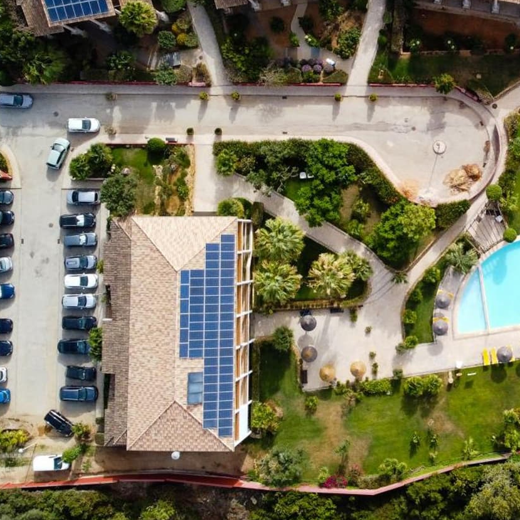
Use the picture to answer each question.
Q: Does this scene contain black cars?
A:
Yes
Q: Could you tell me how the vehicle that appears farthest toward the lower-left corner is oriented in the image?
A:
from left to right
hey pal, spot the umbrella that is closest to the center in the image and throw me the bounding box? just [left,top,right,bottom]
[300,313,318,331]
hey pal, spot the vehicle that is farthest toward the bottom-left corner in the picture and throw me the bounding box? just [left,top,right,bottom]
[27,453,71,474]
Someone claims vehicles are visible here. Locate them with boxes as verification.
[0,232,19,249]
[0,339,13,356]
[59,384,99,404]
[54,338,94,356]
[0,282,19,300]
[59,314,100,333]
[45,136,72,172]
[0,366,8,382]
[64,188,102,207]
[62,253,99,272]
[0,255,18,274]
[39,406,78,439]
[64,115,104,134]
[64,365,100,384]
[0,316,13,333]
[61,231,101,249]
[58,212,98,231]
[0,387,13,404]
[61,273,102,292]
[59,292,99,311]
[27,453,71,474]
[0,188,19,207]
